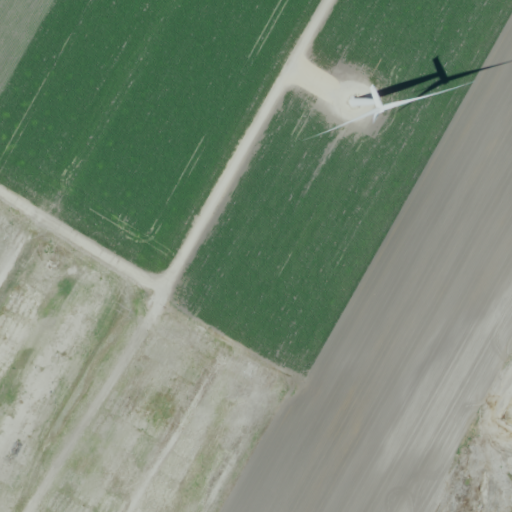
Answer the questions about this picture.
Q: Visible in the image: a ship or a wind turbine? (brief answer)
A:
wind turbine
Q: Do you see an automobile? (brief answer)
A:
No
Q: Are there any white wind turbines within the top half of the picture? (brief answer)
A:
Yes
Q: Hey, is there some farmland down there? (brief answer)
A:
Yes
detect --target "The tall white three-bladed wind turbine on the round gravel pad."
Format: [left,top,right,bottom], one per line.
[304,83,474,142]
